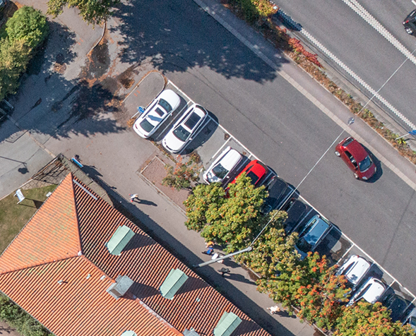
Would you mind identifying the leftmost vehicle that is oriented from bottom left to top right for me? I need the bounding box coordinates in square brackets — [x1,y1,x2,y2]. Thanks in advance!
[130,87,182,139]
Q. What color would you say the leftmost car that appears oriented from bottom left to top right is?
white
